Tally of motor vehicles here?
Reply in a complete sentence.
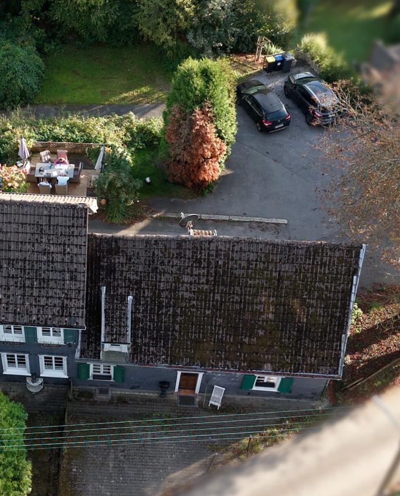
In total, there are 2 motor vehicles in the scene.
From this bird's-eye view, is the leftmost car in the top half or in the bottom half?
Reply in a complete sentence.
Seen from above, the leftmost car lies in the top half of the view.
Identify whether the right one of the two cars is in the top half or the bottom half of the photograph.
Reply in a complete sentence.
You can find the right one of the two cars in the top half.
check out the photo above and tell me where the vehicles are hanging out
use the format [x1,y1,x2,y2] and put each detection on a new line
[286,71,337,117]
[240,80,289,127]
